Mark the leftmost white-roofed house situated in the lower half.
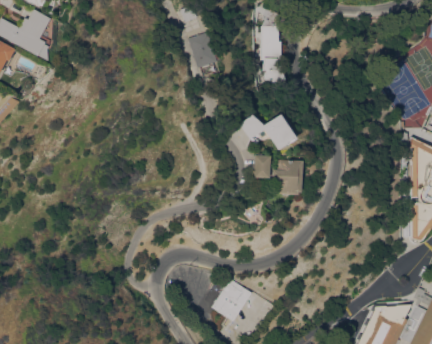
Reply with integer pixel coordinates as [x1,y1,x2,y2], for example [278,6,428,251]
[212,280,251,321]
